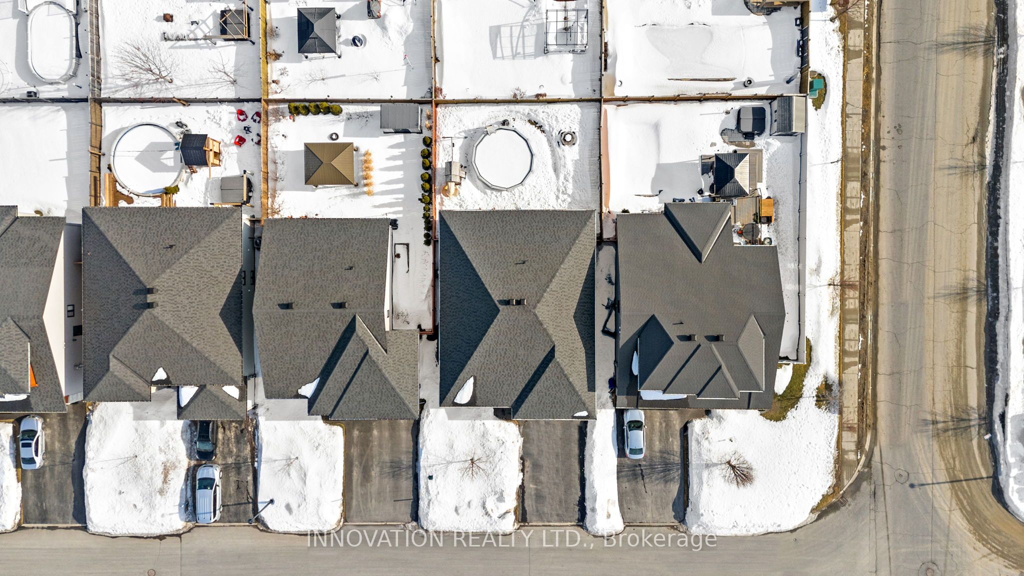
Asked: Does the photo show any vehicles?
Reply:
Yes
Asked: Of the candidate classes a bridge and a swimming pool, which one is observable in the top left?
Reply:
swimming pool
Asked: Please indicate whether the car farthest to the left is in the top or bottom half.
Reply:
bottom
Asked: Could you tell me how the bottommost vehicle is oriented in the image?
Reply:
vertically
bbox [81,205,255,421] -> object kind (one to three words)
house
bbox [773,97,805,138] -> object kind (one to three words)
shed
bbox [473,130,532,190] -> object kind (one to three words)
swimming pool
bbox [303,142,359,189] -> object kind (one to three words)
gazebo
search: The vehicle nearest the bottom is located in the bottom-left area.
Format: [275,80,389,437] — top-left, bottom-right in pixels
[194,463,225,523]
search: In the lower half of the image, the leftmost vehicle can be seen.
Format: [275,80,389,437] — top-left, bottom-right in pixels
[16,414,50,470]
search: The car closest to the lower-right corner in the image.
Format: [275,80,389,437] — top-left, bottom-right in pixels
[622,411,649,460]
